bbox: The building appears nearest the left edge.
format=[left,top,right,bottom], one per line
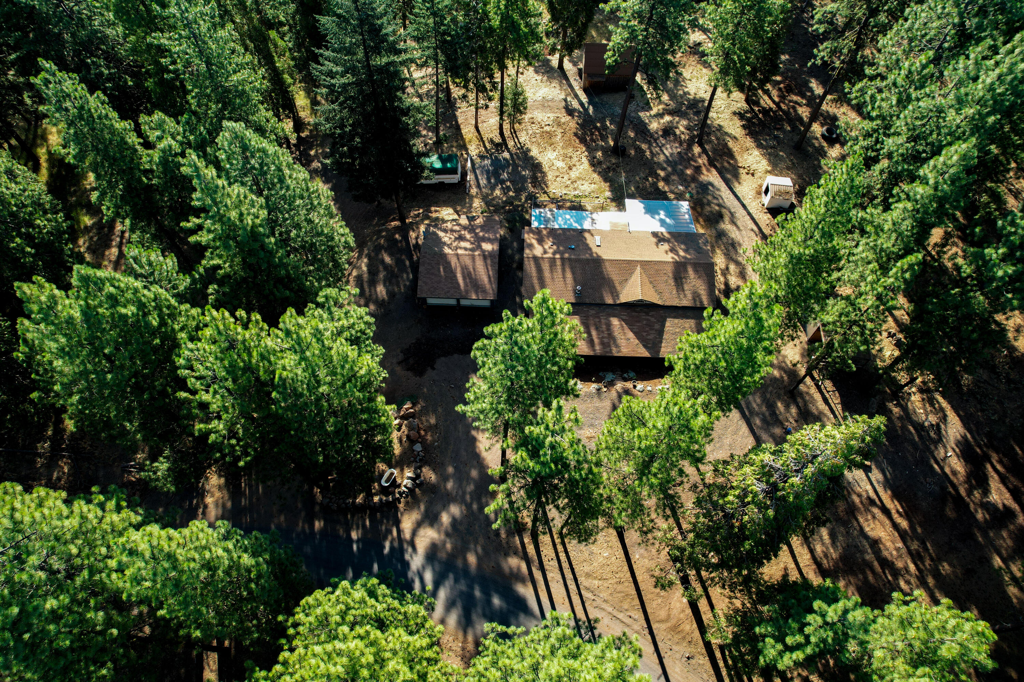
[417,216,501,312]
